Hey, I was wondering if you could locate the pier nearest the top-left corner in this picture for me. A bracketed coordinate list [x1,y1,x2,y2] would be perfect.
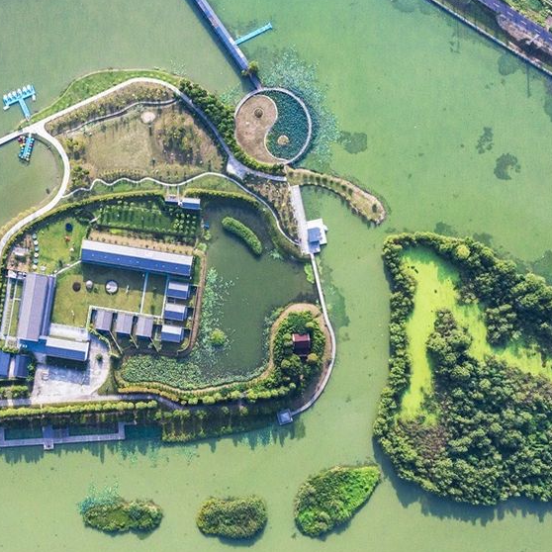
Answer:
[3,85,35,124]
